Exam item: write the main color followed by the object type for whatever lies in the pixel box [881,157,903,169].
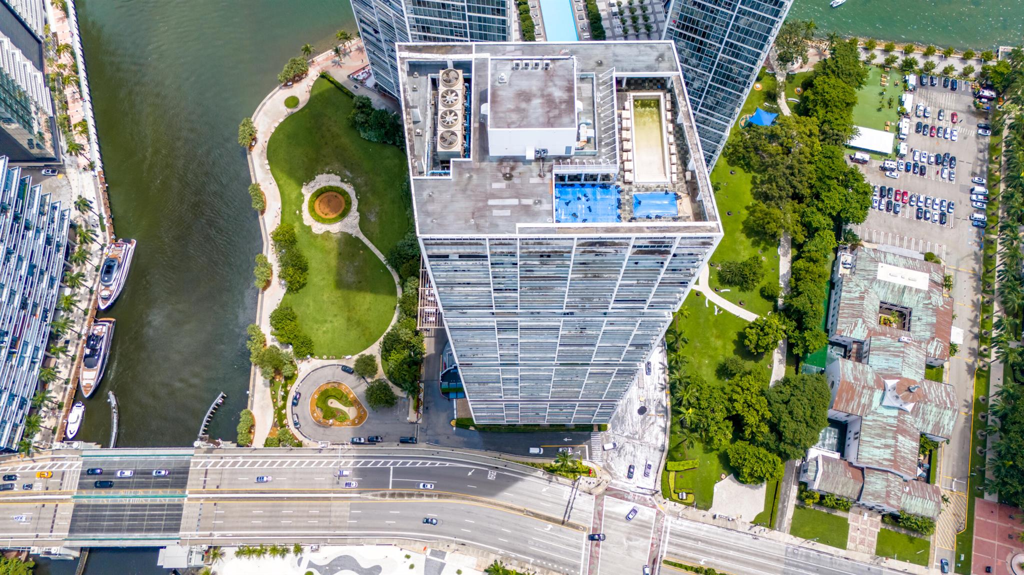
white vehicle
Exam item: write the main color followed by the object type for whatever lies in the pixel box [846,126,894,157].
white tent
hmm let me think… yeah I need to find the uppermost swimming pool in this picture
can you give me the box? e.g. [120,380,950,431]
[539,0,579,41]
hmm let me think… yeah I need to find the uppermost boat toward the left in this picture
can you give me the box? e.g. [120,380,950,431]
[100,238,134,309]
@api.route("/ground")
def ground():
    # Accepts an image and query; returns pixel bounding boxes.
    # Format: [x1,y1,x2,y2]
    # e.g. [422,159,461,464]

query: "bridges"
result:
[0,436,359,562]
